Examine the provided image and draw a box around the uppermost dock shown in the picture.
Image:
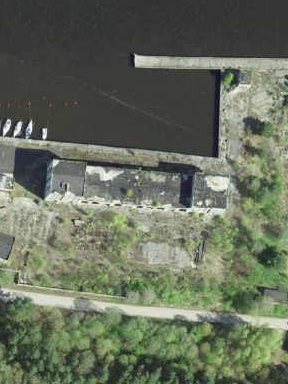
[133,53,288,71]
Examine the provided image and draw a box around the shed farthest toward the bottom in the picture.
[262,289,287,304]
